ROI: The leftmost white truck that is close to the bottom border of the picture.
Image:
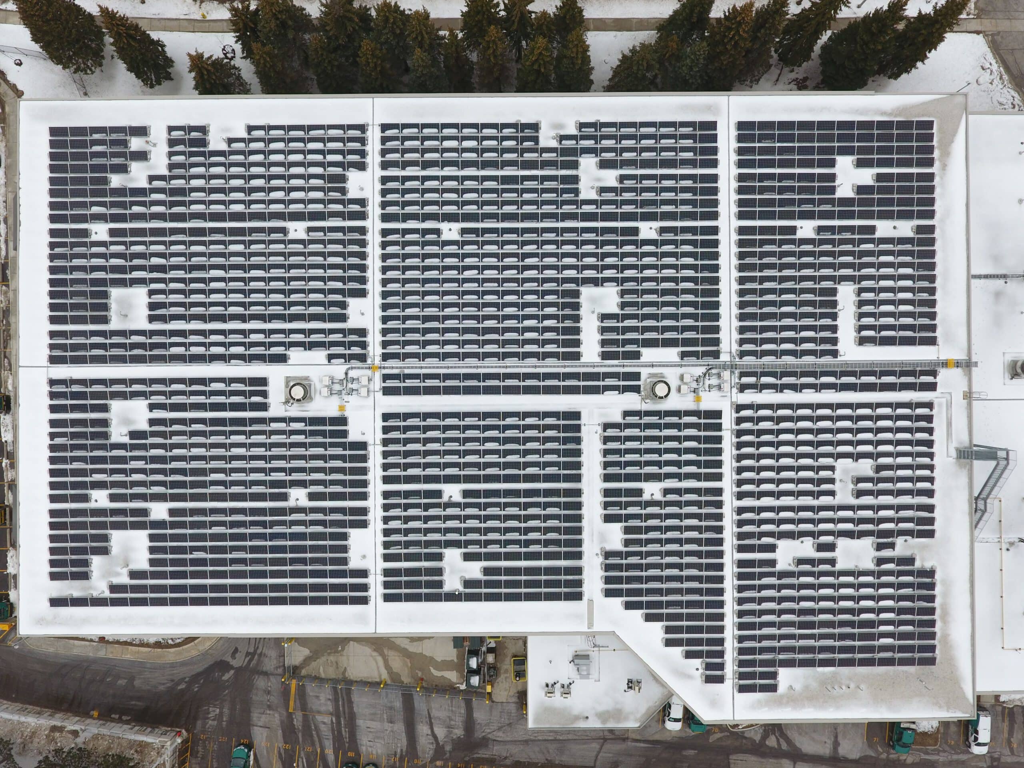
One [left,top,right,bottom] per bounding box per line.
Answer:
[665,695,686,731]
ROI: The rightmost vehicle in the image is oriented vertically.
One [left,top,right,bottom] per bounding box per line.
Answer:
[967,699,994,755]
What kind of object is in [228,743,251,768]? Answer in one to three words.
car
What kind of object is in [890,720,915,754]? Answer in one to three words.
truck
